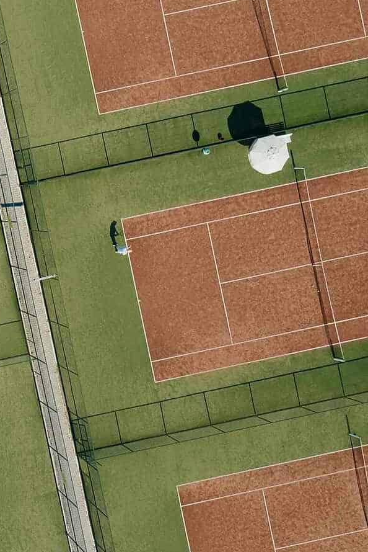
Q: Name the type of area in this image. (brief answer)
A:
sports ground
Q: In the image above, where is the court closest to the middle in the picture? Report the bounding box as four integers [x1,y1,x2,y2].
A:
[122,169,368,383]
